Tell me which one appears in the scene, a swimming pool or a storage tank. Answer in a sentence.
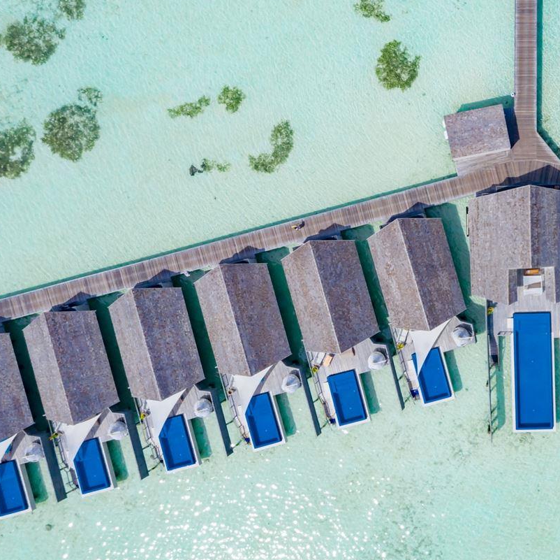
It is a swimming pool that can be seen here.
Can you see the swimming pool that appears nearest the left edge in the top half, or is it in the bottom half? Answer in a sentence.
The bottom half of the photo is where the swimming pool that appears nearest the left edge is.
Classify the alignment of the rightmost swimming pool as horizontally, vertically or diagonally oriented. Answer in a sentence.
The rightmost swimming pool is oriented vertically.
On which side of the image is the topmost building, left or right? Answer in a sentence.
The topmost building appears in the right half of the scene.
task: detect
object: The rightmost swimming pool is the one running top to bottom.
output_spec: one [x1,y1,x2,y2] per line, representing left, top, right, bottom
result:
[508,311,556,432]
